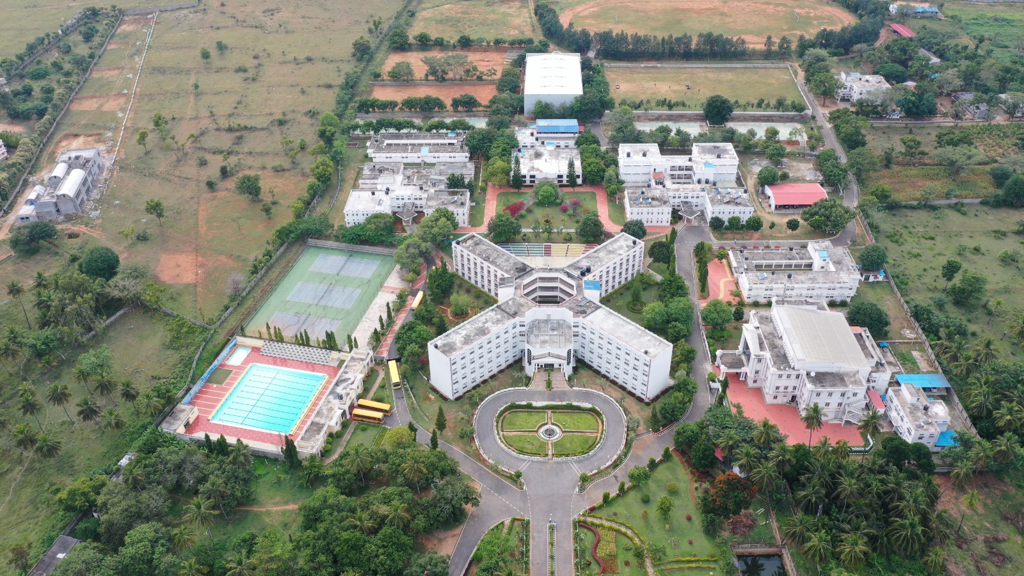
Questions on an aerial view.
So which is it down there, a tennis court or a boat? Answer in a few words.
tennis court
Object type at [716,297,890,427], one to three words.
building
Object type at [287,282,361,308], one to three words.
tennis court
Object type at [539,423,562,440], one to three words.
fountain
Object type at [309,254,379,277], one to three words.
tennis court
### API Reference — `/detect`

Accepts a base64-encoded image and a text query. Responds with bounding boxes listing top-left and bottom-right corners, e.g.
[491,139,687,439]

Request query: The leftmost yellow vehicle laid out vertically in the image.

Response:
[388,363,402,392]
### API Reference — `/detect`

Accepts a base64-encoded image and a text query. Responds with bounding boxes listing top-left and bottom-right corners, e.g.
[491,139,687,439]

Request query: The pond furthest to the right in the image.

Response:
[730,542,799,576]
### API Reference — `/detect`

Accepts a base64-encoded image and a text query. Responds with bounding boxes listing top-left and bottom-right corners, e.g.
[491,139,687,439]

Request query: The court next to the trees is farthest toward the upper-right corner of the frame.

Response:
[727,123,807,139]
